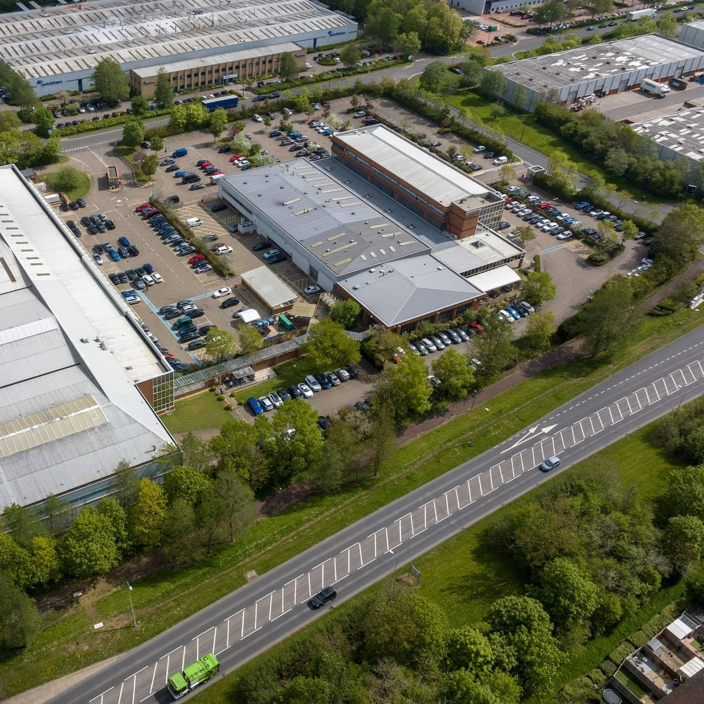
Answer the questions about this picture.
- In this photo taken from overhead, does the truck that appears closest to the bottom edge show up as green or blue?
green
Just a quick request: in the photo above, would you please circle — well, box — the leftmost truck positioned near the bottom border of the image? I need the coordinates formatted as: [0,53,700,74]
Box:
[160,652,222,704]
